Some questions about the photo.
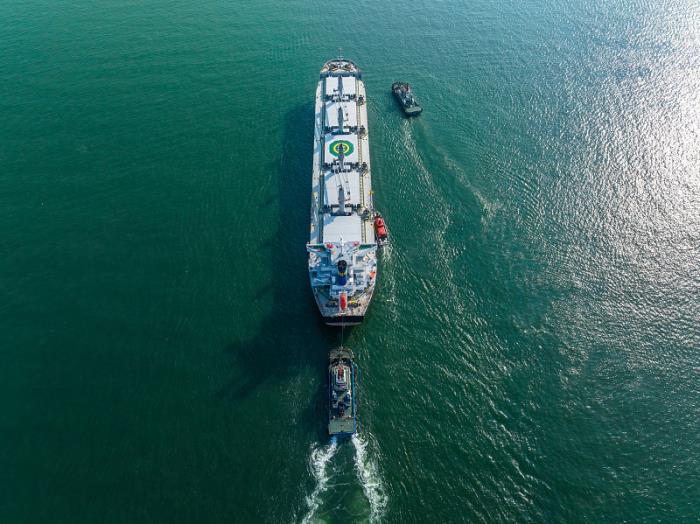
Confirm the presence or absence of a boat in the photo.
Yes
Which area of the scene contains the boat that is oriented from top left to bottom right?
top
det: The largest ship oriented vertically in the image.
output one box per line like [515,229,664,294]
[306,46,379,326]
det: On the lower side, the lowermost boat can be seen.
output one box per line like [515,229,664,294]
[327,346,358,436]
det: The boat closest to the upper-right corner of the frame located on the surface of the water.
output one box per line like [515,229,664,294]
[391,79,422,115]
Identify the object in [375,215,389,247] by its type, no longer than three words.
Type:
boat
